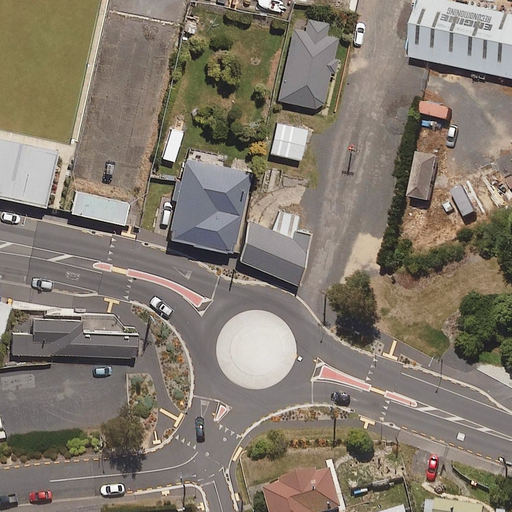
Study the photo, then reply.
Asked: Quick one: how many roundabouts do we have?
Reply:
1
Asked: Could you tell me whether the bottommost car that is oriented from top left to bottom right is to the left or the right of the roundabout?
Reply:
on its left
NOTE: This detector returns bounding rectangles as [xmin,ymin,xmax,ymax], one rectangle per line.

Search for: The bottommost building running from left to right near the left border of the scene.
[11,302,139,366]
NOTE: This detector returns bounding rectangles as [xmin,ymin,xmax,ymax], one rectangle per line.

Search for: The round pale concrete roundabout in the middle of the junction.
[216,310,296,390]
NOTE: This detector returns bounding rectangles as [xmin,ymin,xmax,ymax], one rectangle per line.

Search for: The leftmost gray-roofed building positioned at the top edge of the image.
[278,19,339,110]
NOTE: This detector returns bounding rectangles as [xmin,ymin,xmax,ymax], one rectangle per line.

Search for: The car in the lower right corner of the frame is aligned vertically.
[426,454,438,482]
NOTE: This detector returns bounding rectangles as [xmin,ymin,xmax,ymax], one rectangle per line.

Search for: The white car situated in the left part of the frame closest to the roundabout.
[150,297,173,317]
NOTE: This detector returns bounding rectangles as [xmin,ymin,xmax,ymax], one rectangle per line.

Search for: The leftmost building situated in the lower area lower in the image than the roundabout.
[262,466,340,512]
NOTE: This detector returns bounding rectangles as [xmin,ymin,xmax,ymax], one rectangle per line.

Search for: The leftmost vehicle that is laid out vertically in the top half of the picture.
[103,160,115,184]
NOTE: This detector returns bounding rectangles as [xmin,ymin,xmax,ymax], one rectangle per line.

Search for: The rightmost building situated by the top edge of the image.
[408,0,512,79]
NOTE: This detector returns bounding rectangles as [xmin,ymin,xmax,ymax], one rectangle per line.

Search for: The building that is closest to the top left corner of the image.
[0,138,58,208]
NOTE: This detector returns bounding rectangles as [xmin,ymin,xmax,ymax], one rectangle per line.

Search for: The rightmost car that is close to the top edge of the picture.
[354,22,366,48]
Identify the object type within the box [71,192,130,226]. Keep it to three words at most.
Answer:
building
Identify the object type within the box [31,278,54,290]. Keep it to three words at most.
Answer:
vehicle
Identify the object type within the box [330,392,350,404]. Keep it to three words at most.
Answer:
vehicle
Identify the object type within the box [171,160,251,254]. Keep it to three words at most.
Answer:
house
